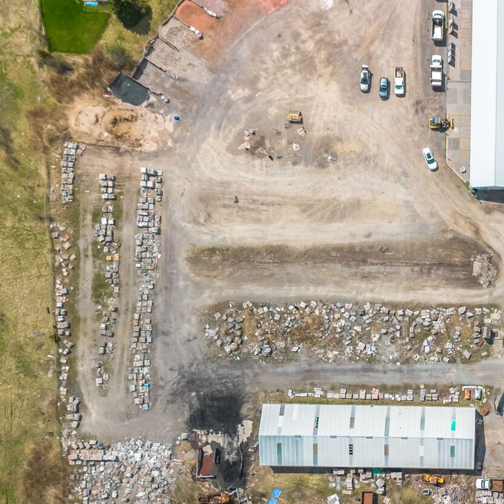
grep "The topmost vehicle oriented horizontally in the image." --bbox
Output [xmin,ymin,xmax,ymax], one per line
[426,118,459,131]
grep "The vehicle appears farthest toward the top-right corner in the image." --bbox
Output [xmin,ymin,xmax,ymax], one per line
[432,10,445,45]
